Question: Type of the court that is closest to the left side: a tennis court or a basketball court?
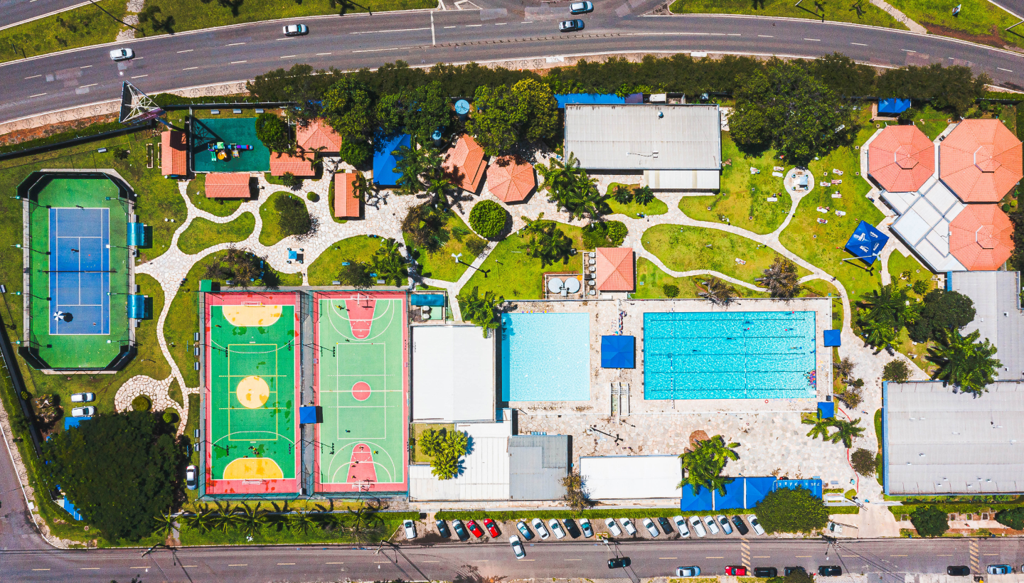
tennis court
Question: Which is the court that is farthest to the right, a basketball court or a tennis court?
basketball court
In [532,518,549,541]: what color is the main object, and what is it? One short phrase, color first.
white car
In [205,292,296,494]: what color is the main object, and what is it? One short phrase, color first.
green sports court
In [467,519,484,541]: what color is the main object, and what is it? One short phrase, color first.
red car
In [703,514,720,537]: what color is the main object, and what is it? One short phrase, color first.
white car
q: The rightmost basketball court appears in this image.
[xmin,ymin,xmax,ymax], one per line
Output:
[314,292,406,492]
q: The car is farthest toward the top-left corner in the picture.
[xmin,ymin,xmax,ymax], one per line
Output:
[109,46,135,61]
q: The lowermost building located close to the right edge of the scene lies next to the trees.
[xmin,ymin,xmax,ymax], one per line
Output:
[880,376,1024,495]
